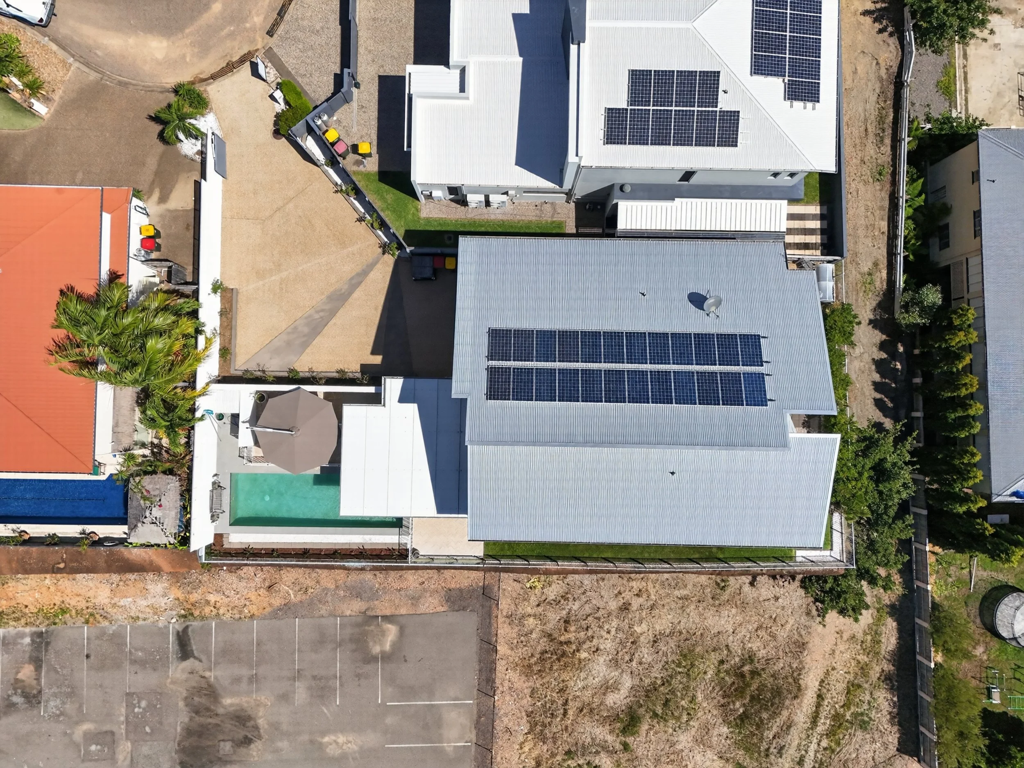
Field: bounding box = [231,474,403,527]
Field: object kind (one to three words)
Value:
swimming pool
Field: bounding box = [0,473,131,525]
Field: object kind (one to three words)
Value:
swimming pool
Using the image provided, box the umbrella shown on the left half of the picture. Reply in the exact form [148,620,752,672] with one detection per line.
[244,387,339,475]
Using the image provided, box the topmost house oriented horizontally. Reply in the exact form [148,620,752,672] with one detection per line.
[404,0,841,213]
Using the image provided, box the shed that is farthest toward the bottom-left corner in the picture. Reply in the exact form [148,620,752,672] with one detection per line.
[124,469,191,546]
